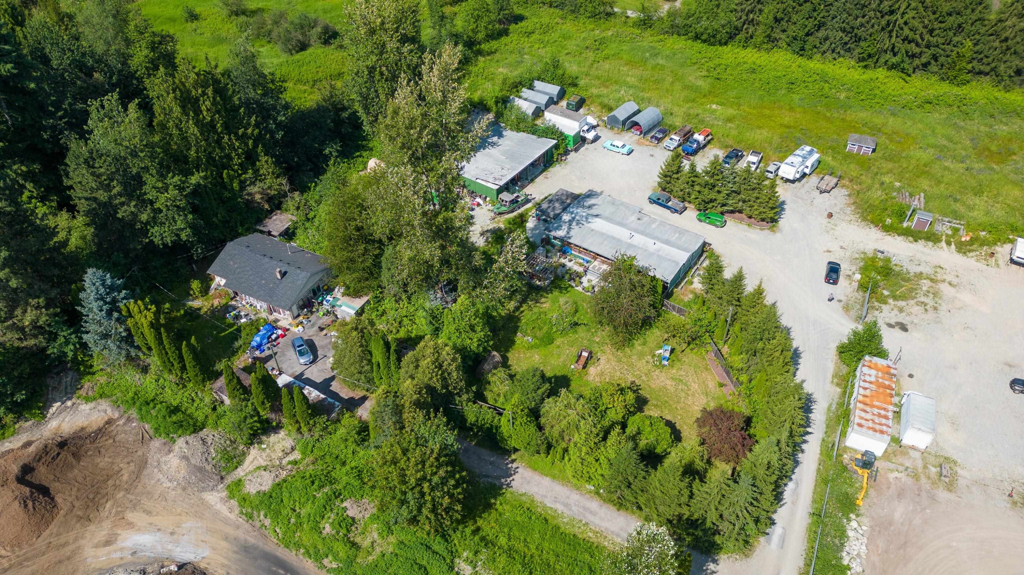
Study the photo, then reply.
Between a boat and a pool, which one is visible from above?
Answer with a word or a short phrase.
boat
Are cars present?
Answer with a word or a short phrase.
Yes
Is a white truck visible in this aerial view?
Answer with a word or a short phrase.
Yes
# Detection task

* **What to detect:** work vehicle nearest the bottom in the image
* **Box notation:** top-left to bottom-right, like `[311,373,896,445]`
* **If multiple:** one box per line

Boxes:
[850,452,881,503]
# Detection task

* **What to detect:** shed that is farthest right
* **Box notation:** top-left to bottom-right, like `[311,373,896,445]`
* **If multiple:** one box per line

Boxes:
[911,210,934,231]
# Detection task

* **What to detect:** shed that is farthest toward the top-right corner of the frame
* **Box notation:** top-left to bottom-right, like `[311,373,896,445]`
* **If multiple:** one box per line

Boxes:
[845,134,878,158]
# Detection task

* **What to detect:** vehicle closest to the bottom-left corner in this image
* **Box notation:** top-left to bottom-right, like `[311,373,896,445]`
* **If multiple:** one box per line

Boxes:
[291,336,313,368]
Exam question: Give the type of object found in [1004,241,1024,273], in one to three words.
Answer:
camper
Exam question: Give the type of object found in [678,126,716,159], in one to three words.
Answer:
truck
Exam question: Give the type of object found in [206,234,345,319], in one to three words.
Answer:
house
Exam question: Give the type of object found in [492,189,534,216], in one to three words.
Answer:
boat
